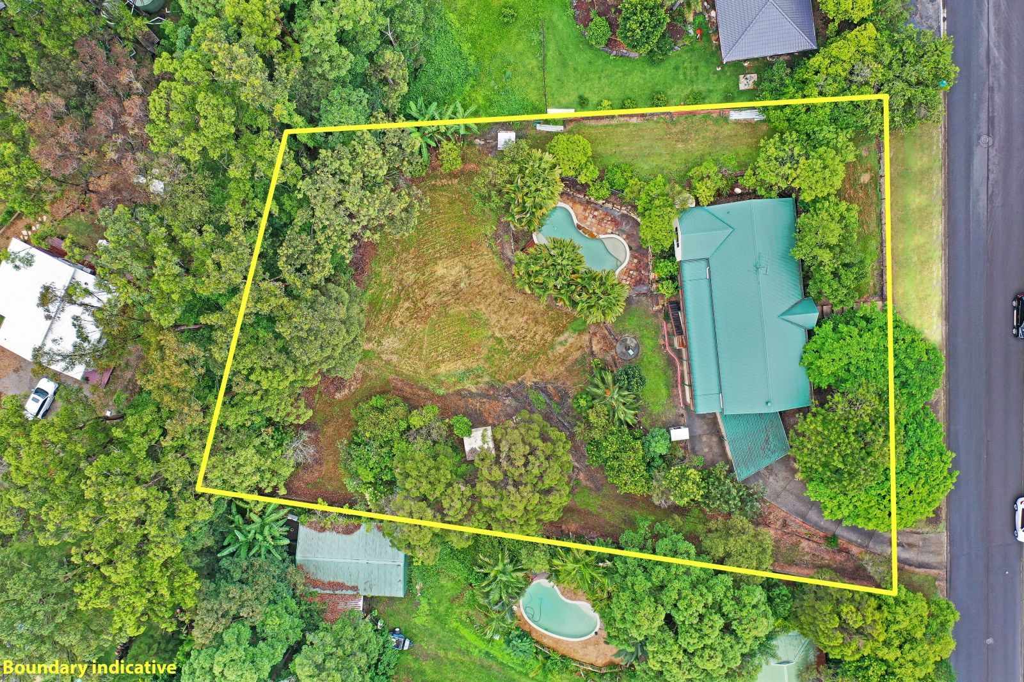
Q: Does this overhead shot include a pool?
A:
Yes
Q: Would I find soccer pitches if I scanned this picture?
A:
No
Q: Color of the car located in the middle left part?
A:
white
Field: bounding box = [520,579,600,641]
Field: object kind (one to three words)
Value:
swimming pool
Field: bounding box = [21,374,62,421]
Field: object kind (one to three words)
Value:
car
